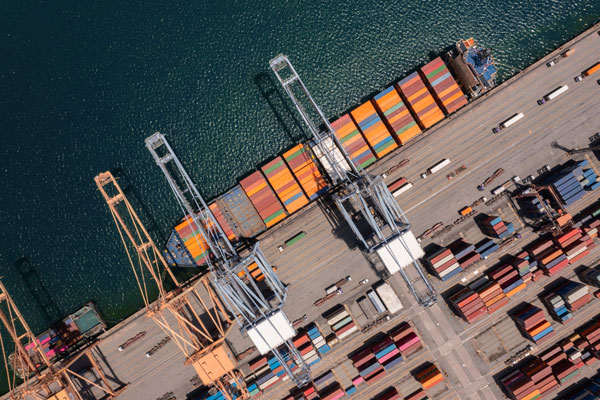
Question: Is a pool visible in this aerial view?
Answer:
No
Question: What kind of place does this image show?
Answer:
port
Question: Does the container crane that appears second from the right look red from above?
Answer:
No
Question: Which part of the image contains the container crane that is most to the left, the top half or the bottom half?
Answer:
bottom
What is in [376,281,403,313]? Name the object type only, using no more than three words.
shed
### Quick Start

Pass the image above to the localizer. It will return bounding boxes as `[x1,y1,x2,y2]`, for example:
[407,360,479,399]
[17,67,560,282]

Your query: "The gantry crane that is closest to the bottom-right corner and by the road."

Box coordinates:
[513,176,578,236]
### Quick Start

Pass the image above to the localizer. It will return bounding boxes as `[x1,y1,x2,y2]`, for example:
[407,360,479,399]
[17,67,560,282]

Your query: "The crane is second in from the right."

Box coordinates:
[268,52,440,307]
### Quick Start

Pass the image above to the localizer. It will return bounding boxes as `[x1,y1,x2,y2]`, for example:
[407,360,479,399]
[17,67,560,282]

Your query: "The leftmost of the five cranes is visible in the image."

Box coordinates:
[0,281,135,400]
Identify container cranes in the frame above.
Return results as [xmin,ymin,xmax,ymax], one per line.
[268,52,440,307]
[90,169,256,400]
[0,281,135,400]
[513,176,578,236]
[141,131,313,387]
